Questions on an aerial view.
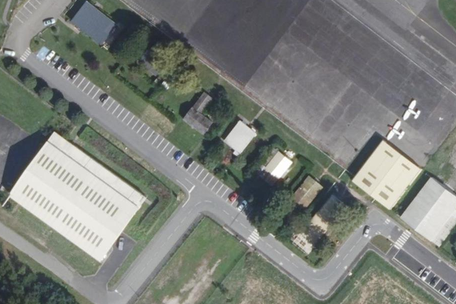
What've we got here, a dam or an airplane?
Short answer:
airplane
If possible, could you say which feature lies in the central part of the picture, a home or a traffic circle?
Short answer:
home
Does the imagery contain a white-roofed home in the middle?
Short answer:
Yes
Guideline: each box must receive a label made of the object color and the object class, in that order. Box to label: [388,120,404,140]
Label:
white airplane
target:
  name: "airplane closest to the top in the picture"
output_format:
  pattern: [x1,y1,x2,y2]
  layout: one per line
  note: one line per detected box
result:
[404,100,420,120]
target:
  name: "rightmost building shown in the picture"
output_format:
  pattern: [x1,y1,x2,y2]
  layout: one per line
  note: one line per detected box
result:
[400,177,456,246]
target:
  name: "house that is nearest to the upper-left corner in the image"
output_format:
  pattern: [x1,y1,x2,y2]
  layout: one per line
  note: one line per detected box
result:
[71,1,115,45]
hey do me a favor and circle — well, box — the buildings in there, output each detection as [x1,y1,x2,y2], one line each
[184,92,213,135]
[71,1,115,45]
[224,120,256,154]
[293,232,312,254]
[264,152,293,178]
[352,140,422,210]
[294,175,323,206]
[311,194,346,232]
[10,132,146,261]
[400,177,456,246]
